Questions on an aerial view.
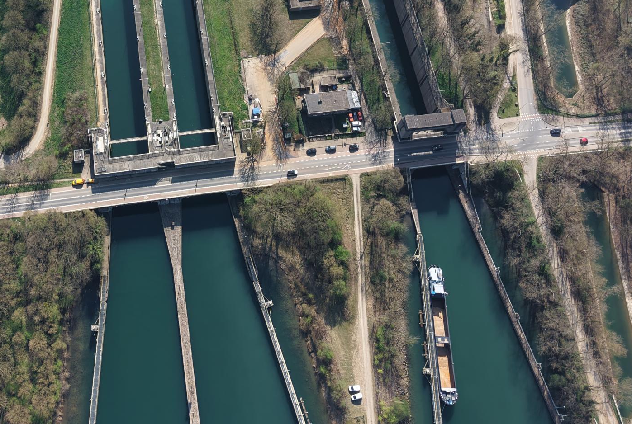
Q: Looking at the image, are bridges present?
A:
Yes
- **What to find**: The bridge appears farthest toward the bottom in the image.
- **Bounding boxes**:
[75,160,253,211]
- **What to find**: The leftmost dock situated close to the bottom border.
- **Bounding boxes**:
[88,274,107,424]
